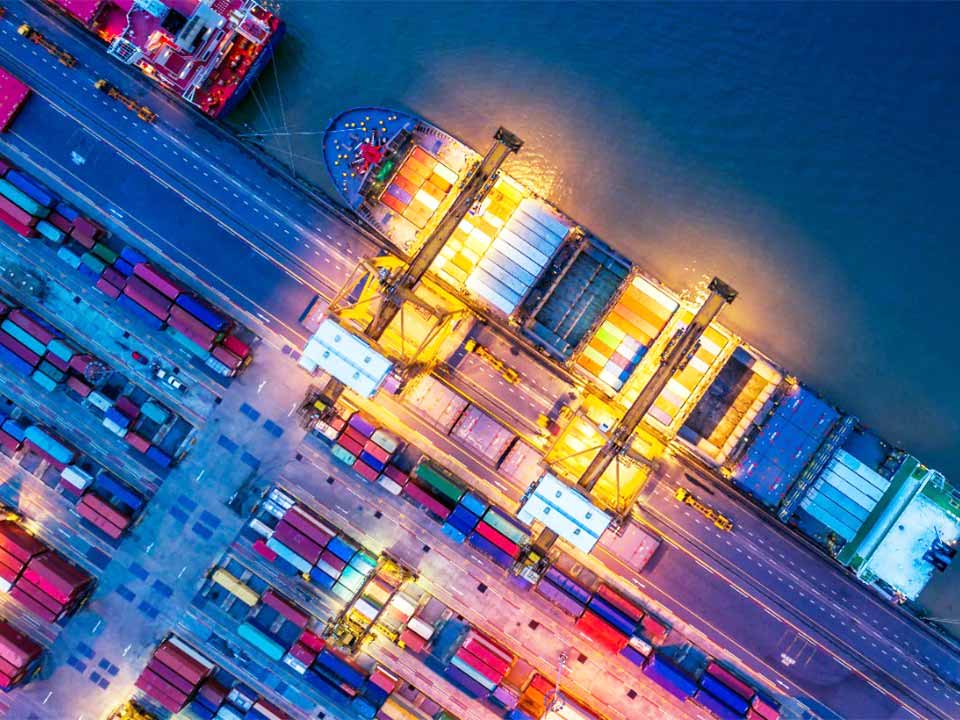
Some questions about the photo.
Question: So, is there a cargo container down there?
Yes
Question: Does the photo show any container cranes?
Yes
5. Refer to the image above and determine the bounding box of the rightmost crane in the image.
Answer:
[499,268,742,591]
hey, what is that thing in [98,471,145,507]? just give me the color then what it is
blue shipping container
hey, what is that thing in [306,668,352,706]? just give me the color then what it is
blue shipping container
